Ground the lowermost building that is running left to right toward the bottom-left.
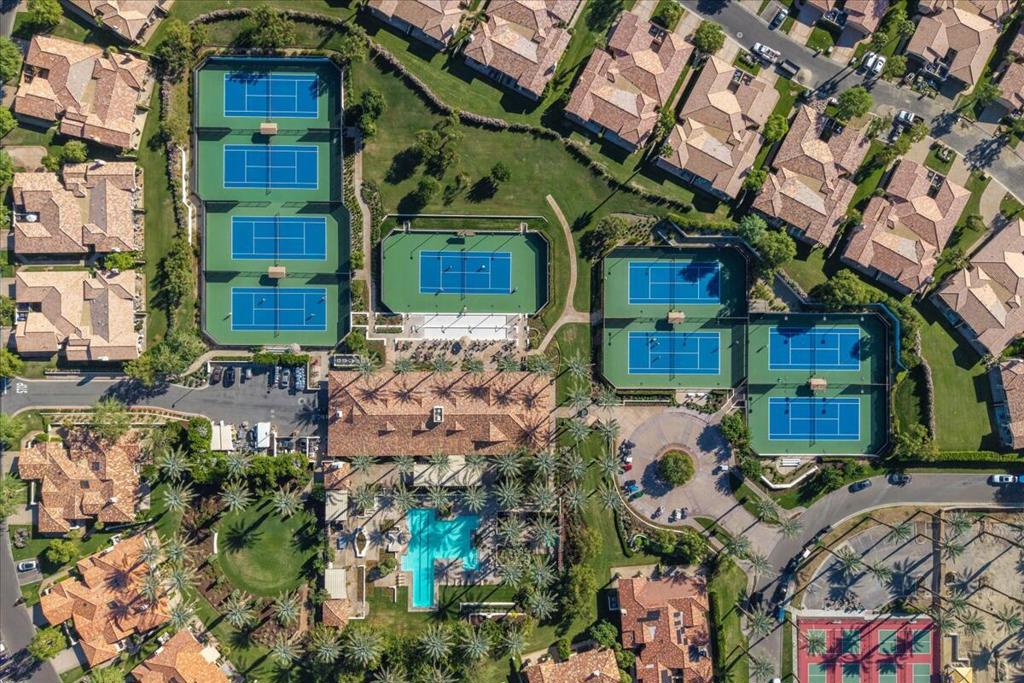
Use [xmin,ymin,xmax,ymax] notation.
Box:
[128,628,260,683]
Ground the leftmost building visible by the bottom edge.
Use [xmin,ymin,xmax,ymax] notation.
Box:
[39,532,174,667]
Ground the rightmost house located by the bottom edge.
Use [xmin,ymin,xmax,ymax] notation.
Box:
[615,577,713,683]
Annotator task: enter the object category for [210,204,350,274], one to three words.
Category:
tennis court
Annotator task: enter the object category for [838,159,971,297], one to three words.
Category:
house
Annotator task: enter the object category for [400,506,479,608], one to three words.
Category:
swimming pool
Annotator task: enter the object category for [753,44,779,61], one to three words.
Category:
vehicle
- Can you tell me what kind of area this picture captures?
residential area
